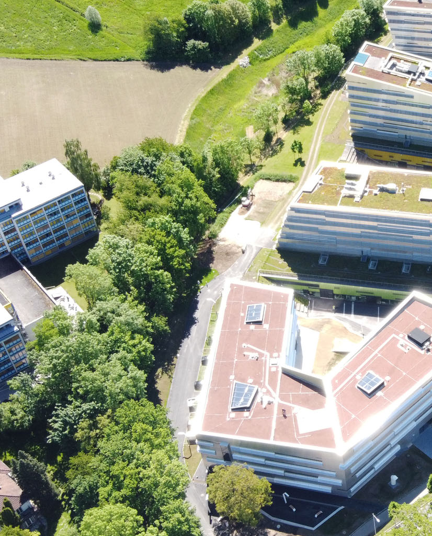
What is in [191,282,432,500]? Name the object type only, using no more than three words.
building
